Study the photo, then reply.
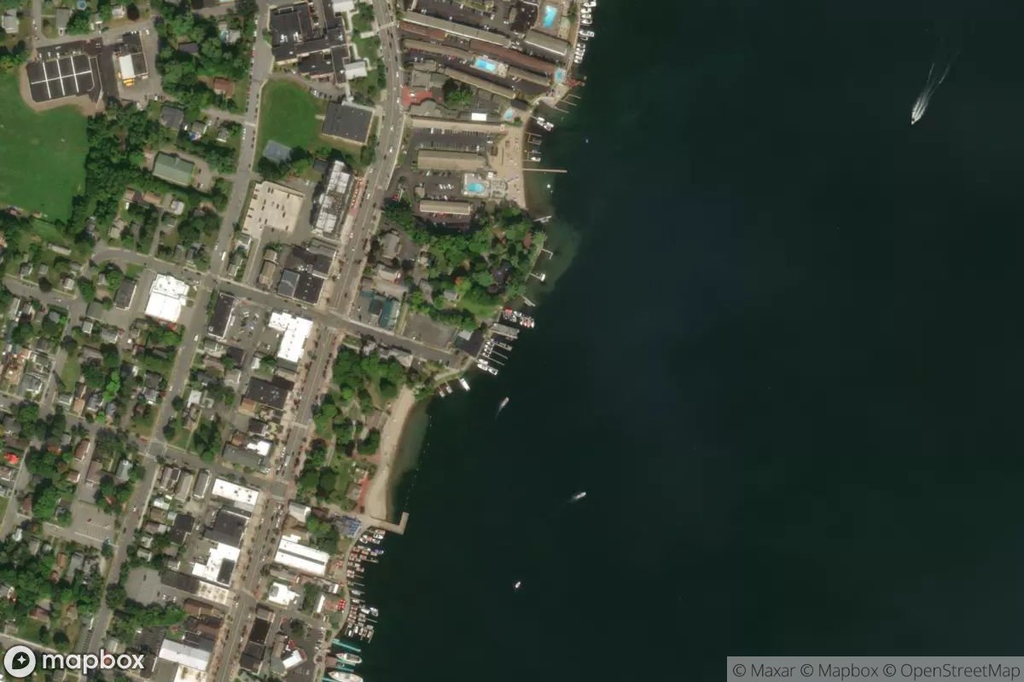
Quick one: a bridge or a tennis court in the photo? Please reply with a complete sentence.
The image shows a tennis court.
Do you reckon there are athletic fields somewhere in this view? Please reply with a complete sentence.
Yes, you can see an athletic field in this photo.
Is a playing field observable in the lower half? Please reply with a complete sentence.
No, no playing field appears in the lower half.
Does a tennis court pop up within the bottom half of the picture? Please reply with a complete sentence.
No, no tennis court can be made out within the bottom half of the picture.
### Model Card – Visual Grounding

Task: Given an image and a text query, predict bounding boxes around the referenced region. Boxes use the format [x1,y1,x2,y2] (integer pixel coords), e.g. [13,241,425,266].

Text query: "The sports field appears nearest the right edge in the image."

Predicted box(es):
[257,78,324,148]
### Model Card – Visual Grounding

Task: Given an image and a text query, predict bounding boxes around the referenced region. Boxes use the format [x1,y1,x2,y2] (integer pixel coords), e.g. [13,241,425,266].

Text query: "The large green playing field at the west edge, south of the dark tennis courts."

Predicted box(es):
[0,73,88,223]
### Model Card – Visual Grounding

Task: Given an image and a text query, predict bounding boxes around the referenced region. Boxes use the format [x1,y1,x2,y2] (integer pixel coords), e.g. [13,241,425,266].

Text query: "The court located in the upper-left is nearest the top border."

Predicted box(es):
[27,54,94,101]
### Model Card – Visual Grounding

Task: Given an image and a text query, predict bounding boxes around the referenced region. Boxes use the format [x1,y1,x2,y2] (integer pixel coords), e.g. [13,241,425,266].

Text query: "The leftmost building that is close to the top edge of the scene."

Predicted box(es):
[2,7,20,35]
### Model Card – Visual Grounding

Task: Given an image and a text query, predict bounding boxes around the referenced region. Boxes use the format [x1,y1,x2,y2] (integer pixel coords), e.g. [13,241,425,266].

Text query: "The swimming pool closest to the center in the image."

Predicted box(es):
[464,174,507,197]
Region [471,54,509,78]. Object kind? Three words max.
swimming pool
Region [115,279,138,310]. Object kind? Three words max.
house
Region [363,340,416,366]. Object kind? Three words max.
building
